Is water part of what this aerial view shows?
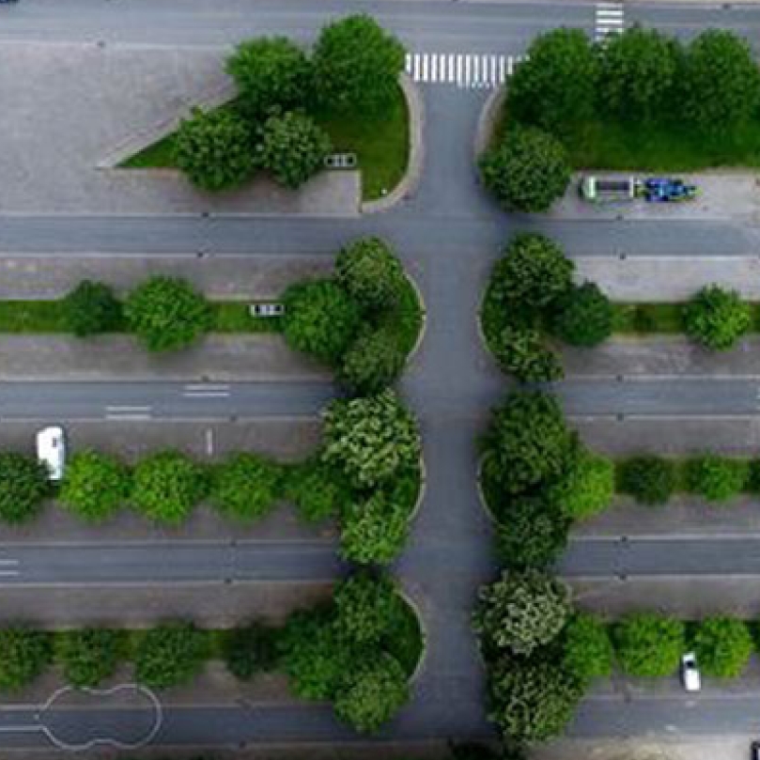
No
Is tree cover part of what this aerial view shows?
Yes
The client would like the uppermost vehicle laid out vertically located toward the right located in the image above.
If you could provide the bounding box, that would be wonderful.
[680,652,698,690]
